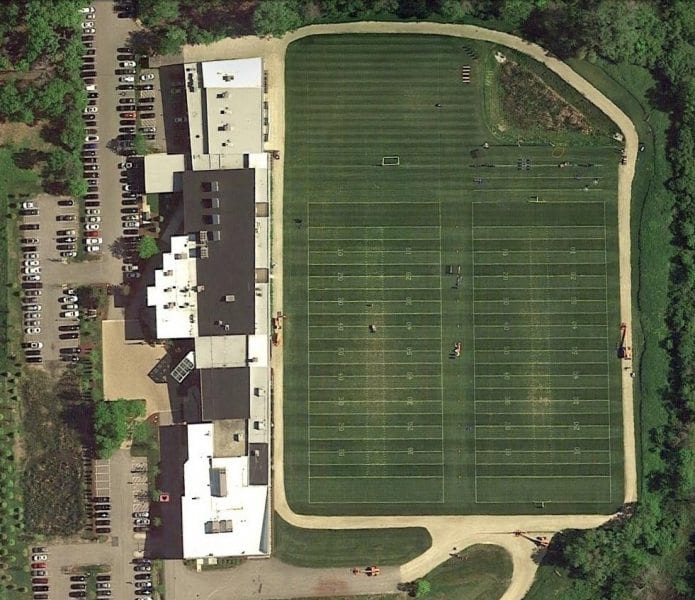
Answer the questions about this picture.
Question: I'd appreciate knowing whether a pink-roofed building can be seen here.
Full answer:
No, there is no pink-roofed building in the image.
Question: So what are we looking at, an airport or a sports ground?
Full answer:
What you see here is a sports ground.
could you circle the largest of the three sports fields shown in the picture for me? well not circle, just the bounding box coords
[283,33,624,516]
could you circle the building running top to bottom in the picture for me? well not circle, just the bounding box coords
[145,58,274,558]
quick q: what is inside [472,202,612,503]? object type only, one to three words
sports field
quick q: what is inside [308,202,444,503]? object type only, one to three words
sports field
